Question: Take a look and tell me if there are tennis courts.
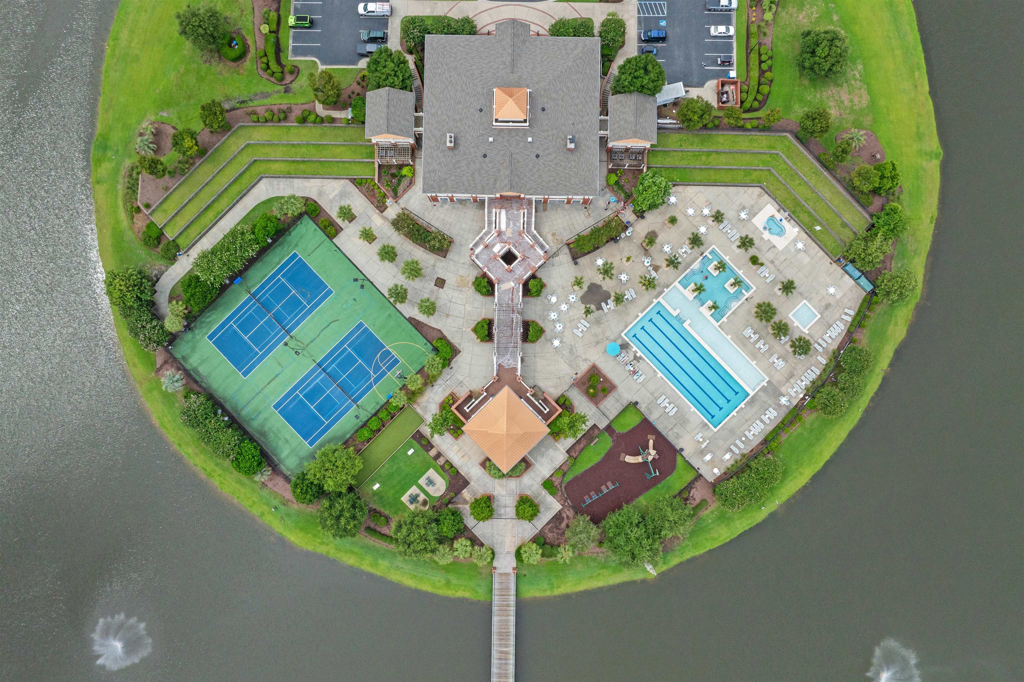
Yes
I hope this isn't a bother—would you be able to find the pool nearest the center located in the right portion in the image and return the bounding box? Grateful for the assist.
[622,245,769,432]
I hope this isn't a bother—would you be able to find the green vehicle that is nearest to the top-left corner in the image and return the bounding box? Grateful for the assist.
[288,14,314,29]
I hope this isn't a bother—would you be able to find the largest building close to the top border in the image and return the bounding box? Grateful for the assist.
[422,20,601,205]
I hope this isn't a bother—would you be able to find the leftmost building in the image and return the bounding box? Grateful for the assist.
[365,88,417,148]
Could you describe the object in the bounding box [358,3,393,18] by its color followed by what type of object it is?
white vehicle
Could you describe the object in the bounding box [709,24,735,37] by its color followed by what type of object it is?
white vehicle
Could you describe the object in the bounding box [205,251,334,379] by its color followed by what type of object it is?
blue tennis court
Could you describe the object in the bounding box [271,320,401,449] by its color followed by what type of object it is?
blue tennis court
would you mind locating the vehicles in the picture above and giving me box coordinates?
[360,29,388,44]
[705,0,738,13]
[709,24,735,37]
[718,54,734,65]
[640,28,667,42]
[358,3,393,18]
[288,14,314,29]
[642,44,657,54]
[357,43,388,56]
